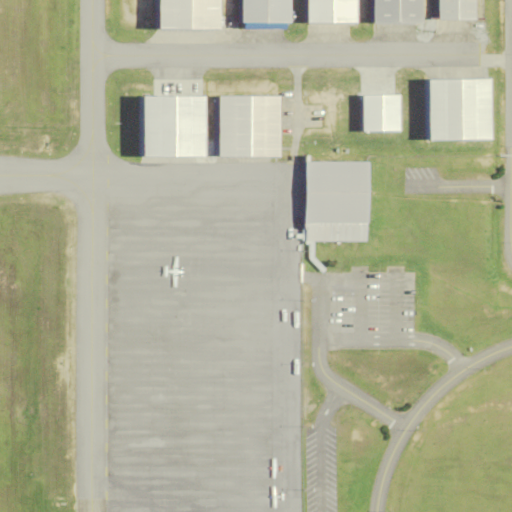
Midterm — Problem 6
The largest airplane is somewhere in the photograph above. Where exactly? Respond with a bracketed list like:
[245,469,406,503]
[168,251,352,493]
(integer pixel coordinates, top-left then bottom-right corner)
[164,256,184,288]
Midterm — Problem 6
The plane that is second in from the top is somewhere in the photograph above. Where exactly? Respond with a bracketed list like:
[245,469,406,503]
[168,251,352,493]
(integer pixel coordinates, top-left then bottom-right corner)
[270,458,286,479]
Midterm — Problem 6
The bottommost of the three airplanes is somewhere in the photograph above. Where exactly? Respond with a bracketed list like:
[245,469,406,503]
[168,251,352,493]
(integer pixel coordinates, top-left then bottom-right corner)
[270,486,285,508]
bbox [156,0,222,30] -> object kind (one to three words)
hangar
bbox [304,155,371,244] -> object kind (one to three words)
building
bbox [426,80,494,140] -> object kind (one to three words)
hangar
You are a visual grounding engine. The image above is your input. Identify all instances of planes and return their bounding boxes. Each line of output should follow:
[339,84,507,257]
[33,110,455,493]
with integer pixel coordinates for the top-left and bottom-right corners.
[164,256,184,288]
[270,458,286,479]
[270,486,285,508]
